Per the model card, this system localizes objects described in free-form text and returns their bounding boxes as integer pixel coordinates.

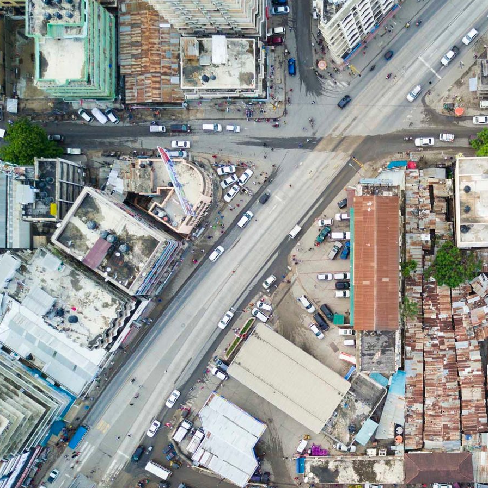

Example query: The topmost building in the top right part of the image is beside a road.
[321,0,398,63]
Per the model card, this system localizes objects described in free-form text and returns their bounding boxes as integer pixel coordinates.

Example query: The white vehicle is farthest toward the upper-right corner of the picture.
[462,27,479,45]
